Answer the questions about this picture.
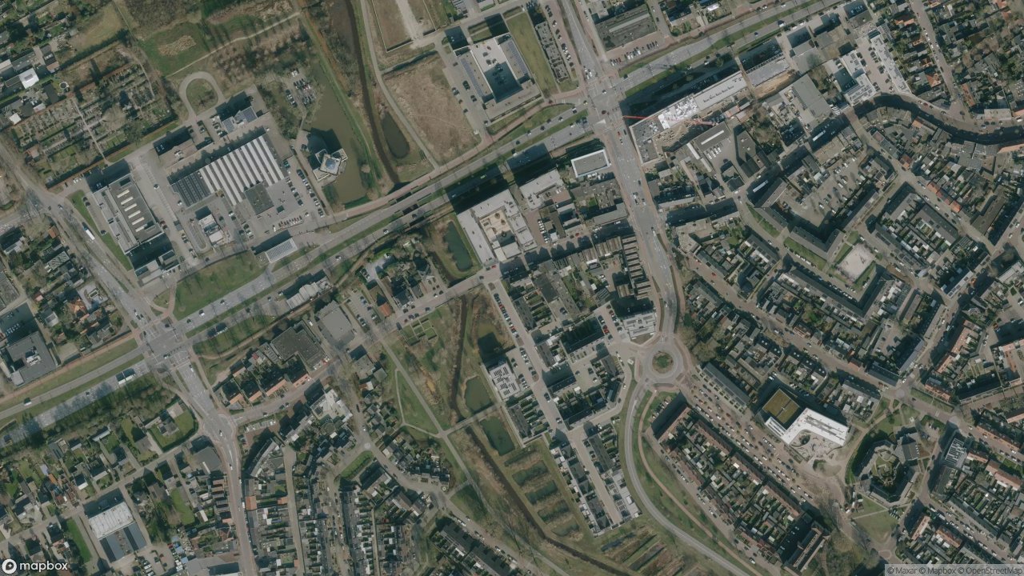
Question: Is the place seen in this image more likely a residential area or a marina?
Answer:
residential area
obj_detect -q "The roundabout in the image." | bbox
[643,342,684,382]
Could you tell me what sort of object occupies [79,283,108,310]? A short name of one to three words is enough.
house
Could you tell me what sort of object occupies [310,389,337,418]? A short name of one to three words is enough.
building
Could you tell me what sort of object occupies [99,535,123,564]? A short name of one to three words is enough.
house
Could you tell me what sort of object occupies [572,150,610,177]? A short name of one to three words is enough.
building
